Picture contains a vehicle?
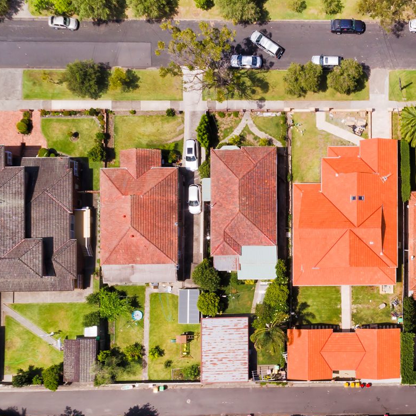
Yes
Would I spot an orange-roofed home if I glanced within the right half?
Yes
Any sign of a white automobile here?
Yes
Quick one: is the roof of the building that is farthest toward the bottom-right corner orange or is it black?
orange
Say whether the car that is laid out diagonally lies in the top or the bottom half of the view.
top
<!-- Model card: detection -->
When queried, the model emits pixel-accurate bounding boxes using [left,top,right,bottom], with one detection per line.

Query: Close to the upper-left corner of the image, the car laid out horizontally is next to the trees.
[48,16,80,31]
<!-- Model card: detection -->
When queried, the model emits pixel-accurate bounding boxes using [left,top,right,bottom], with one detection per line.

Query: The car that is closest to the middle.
[188,184,203,213]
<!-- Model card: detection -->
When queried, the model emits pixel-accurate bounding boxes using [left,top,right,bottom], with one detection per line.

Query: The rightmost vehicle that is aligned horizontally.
[331,18,366,34]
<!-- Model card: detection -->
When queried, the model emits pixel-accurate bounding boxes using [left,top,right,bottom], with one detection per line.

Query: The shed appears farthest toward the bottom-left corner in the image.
[64,339,100,383]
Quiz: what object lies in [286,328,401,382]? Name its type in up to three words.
building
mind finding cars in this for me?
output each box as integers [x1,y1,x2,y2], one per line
[251,33,284,59]
[188,184,203,213]
[312,54,344,70]
[331,18,366,34]
[48,16,80,31]
[183,138,199,170]
[233,55,262,70]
